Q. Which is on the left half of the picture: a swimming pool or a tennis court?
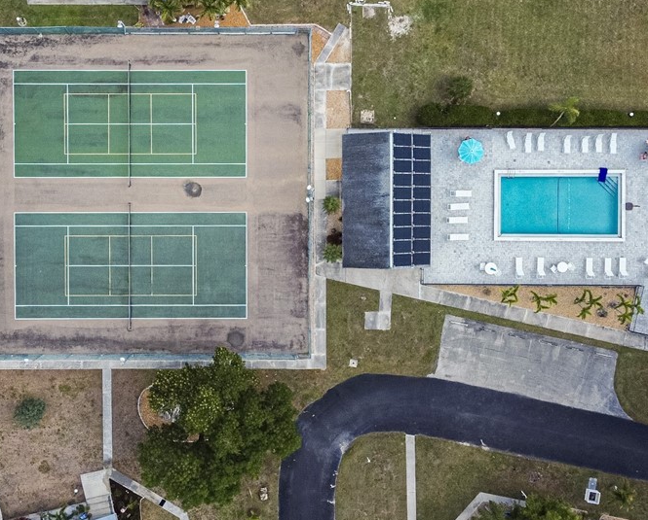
tennis court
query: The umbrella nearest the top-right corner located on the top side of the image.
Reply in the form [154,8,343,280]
[457,139,483,164]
